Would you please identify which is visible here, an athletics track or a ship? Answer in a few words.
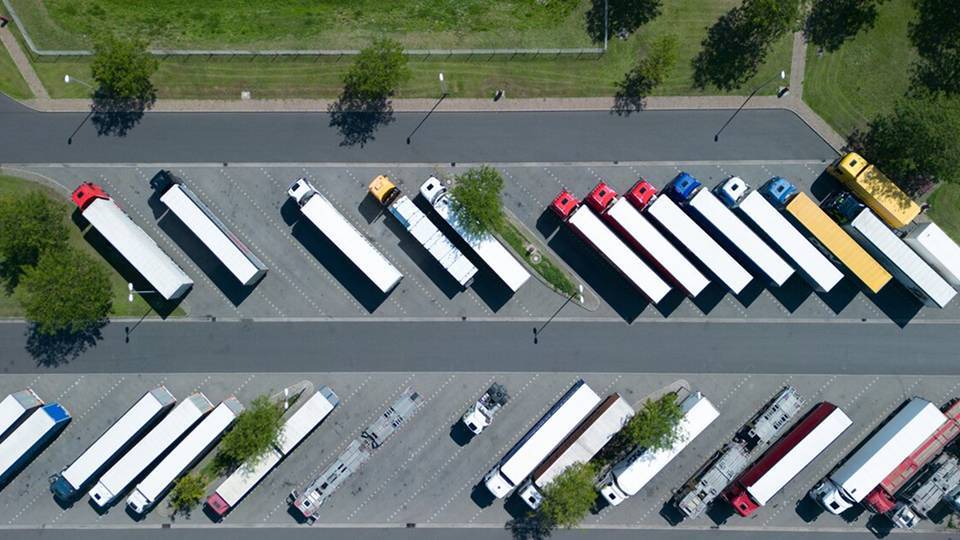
ship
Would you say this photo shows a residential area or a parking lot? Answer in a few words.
parking lot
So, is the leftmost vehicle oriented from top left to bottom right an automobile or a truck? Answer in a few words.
truck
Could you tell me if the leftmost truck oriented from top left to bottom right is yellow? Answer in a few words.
No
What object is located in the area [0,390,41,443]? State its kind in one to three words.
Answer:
truck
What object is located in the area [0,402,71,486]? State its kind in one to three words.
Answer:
truck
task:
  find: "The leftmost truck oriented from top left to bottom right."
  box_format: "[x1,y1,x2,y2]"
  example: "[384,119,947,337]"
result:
[71,180,194,299]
